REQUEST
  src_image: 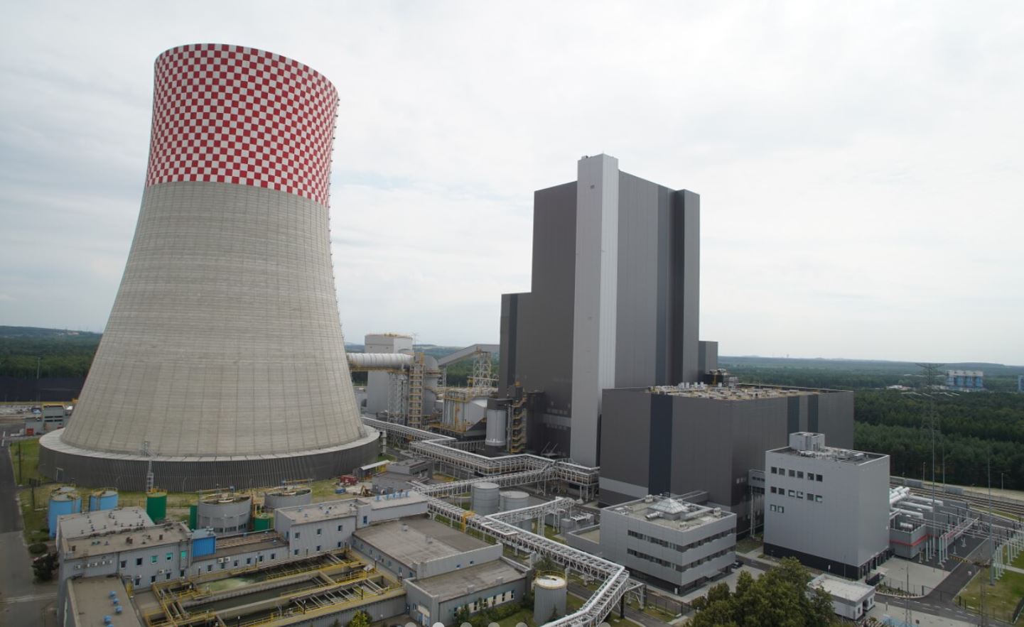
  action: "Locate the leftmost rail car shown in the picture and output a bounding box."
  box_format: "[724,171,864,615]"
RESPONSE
[905,476,932,488]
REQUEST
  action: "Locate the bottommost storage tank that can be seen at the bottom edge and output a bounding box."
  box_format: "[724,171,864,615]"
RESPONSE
[531,563,570,623]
